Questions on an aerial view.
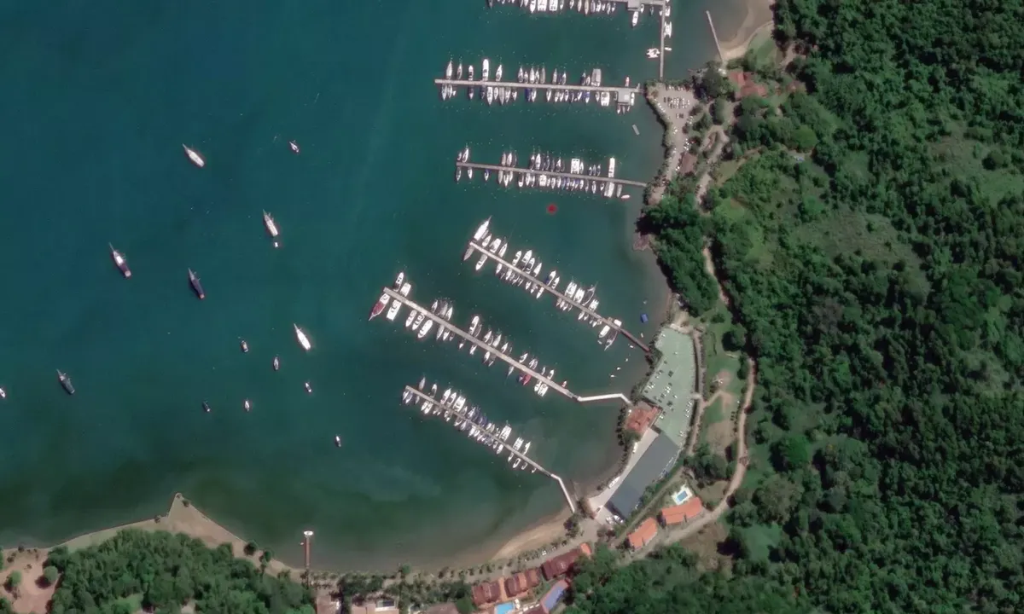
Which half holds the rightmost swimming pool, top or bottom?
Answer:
bottom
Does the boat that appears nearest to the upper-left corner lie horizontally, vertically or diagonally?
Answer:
diagonally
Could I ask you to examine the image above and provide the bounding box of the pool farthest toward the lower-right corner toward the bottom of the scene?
[672,484,692,504]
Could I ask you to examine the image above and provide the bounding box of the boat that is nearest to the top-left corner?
[183,144,204,166]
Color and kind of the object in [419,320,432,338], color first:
white boat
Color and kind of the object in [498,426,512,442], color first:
white boat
